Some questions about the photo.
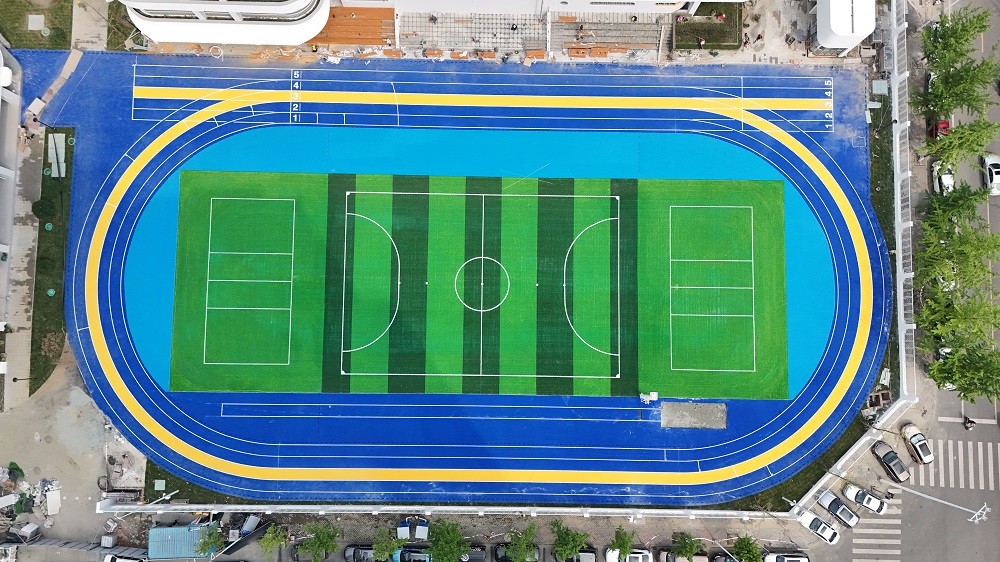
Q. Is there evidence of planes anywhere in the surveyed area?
No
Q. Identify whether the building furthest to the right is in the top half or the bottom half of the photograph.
top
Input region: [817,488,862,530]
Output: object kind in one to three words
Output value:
car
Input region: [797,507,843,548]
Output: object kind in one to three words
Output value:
car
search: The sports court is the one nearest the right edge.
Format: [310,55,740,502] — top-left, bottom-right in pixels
[637,178,789,399]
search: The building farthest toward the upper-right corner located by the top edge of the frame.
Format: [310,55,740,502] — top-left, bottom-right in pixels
[810,0,877,60]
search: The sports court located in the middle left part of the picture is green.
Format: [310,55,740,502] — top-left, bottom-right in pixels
[169,171,329,394]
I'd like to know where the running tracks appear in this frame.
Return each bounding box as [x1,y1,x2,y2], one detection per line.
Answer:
[17,49,891,504]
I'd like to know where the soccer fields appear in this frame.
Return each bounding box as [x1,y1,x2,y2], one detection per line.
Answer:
[170,163,789,400]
